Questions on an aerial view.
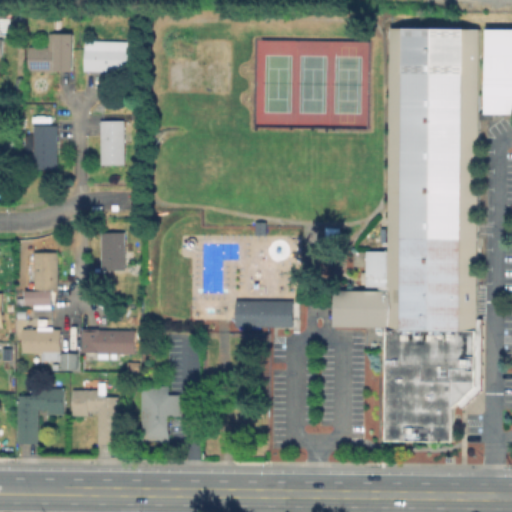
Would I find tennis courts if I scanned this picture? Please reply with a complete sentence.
Yes, a tennis court appears in the view.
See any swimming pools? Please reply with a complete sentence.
Yes, the photo shows a swimming pool.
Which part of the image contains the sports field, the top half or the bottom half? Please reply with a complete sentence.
It is in the top half that the sports field appears.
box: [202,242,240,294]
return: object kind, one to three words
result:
swimming pool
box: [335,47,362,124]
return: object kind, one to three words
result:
tennis court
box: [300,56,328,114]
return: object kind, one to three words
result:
tennis court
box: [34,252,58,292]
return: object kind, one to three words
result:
house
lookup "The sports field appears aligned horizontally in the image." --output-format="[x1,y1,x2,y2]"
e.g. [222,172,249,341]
[160,99,382,219]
